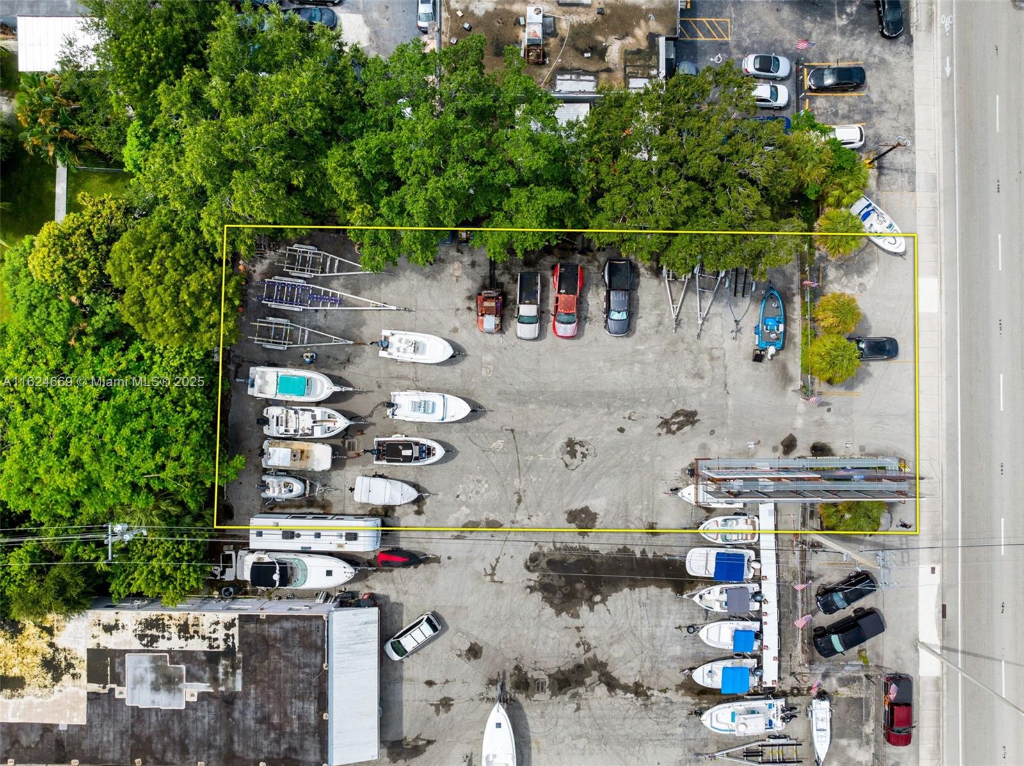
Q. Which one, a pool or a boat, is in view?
boat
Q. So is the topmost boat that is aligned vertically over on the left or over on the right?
right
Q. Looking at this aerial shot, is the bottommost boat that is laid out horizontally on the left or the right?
right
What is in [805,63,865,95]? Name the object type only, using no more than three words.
car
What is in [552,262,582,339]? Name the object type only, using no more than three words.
truck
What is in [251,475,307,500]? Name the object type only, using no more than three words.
boat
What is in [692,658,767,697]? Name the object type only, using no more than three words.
boat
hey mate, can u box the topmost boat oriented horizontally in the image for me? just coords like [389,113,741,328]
[369,329,454,363]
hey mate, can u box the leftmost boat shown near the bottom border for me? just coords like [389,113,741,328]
[481,702,516,766]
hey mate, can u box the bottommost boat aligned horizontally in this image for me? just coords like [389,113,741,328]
[701,693,796,740]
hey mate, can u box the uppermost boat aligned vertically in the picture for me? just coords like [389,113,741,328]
[749,287,784,359]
